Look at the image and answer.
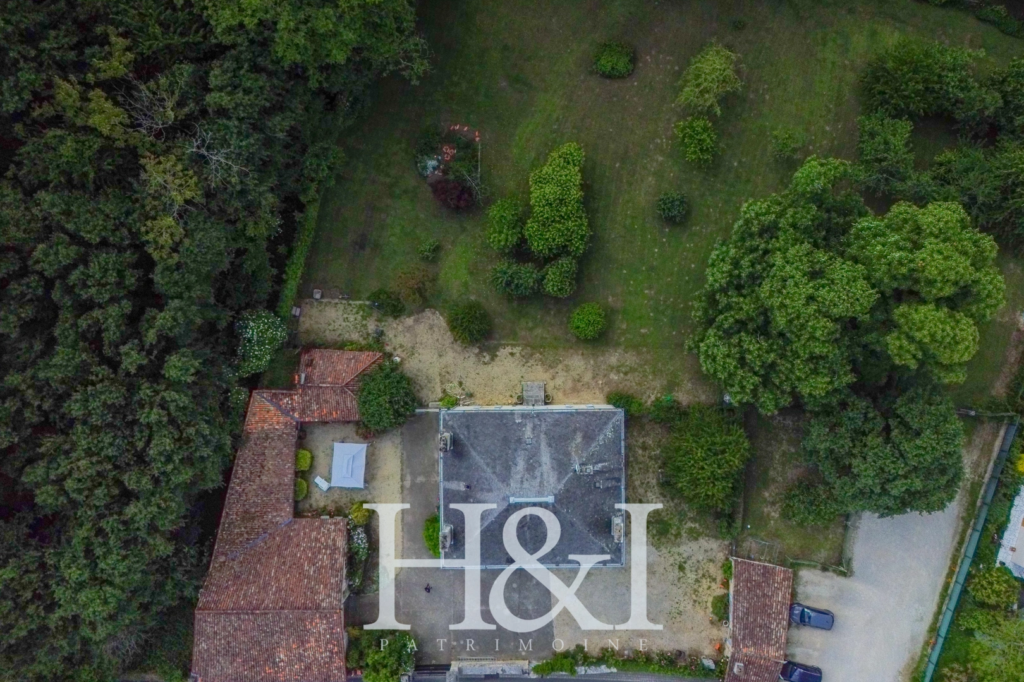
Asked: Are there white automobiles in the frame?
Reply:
No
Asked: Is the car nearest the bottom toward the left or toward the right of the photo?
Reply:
right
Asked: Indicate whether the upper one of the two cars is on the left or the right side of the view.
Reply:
right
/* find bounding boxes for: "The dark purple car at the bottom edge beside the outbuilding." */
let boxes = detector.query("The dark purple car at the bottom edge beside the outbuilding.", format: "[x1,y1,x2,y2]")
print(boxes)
[781,660,823,682]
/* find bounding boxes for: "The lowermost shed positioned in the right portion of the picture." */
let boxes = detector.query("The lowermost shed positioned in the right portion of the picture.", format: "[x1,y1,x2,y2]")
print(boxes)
[716,554,793,682]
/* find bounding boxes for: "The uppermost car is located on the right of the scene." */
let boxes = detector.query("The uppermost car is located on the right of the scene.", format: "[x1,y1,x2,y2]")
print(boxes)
[790,602,835,629]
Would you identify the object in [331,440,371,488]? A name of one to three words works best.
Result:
gazebo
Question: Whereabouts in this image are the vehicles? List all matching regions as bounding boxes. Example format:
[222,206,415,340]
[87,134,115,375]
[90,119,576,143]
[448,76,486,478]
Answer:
[781,660,823,682]
[790,602,835,629]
